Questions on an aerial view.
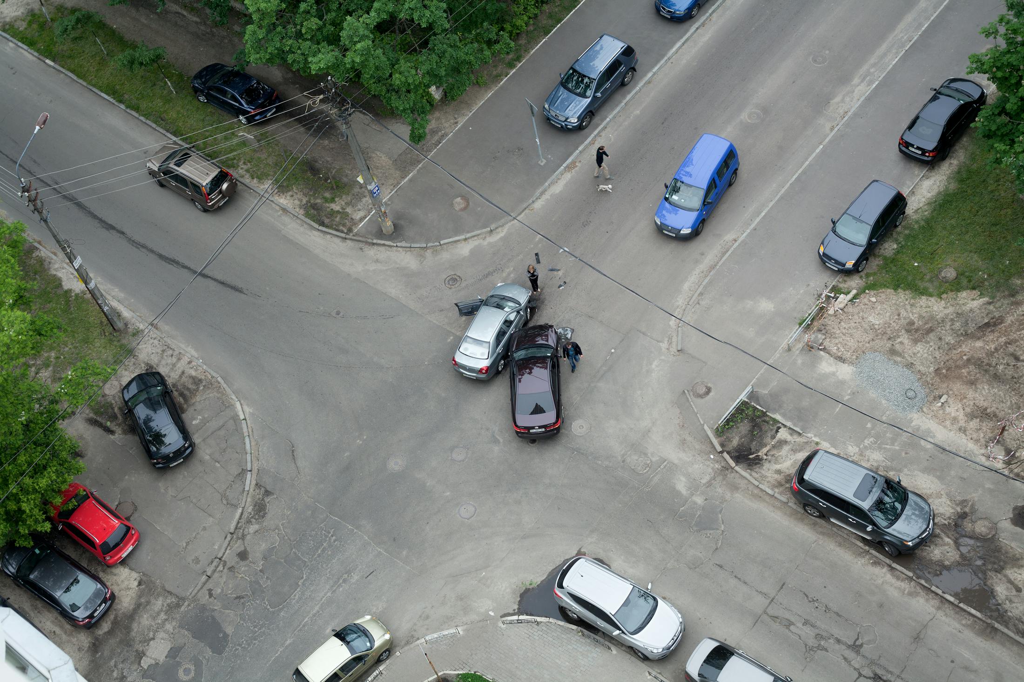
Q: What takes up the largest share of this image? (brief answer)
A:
paved ground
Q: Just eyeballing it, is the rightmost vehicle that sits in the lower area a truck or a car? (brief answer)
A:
car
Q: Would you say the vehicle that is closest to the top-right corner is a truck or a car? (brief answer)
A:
car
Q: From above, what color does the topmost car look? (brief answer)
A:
blue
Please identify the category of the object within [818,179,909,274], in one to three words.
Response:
car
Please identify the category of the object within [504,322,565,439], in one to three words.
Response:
car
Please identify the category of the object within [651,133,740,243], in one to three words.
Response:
van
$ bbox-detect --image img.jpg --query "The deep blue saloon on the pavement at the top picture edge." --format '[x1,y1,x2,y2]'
[659,0,711,21]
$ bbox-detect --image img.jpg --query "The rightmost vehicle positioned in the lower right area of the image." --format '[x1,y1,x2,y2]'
[787,446,938,558]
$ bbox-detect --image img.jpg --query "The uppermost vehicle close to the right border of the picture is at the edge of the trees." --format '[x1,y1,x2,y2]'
[897,73,988,164]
